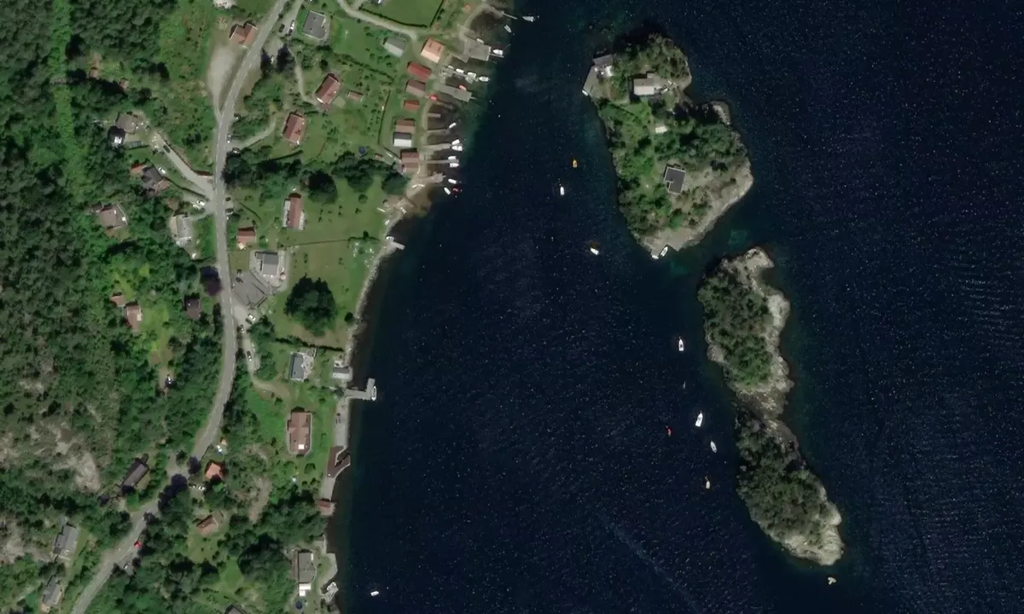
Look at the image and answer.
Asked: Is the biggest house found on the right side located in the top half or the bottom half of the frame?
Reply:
top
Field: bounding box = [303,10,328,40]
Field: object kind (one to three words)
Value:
house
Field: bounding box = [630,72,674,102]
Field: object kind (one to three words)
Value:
house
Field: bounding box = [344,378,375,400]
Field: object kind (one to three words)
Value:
pier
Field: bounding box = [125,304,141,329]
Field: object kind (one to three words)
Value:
building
